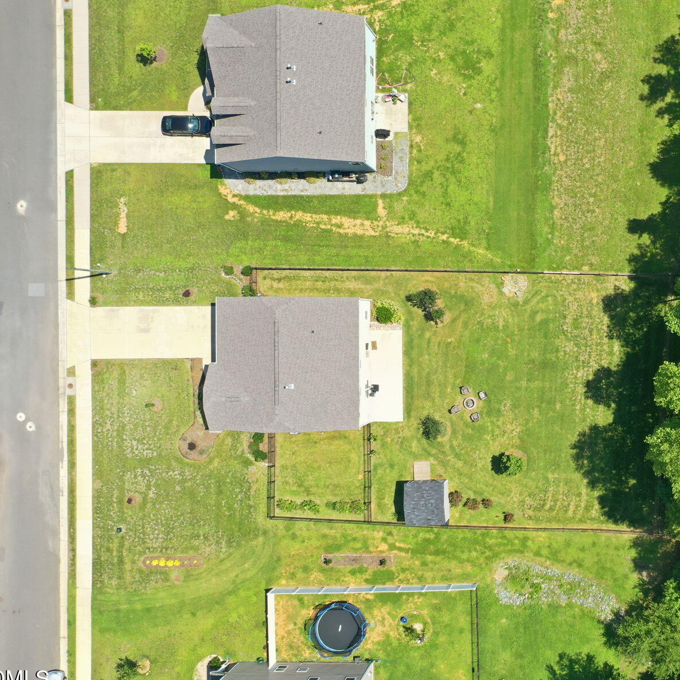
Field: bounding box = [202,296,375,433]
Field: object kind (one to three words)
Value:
house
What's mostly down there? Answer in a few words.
grass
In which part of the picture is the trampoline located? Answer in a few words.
bottom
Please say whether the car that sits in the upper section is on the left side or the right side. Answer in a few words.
left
